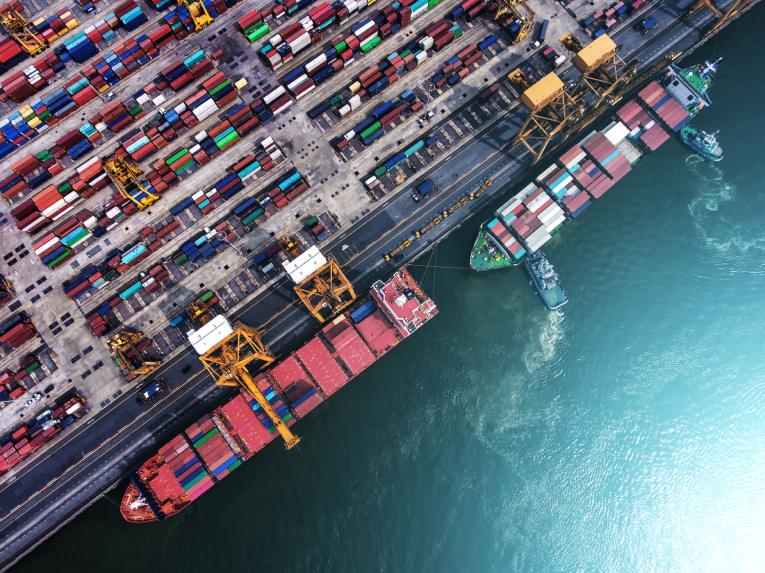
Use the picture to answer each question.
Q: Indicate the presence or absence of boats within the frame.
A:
Yes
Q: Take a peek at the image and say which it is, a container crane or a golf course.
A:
container crane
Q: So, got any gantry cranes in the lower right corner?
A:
No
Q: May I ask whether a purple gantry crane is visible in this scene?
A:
No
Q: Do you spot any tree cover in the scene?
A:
No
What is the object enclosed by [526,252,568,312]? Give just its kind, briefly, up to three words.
boat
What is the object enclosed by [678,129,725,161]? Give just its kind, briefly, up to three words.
boat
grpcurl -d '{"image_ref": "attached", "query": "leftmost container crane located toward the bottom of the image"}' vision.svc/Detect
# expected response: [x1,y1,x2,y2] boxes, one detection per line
[111,326,171,376]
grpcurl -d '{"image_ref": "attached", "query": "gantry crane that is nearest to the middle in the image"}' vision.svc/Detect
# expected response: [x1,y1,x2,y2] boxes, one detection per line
[279,245,357,326]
